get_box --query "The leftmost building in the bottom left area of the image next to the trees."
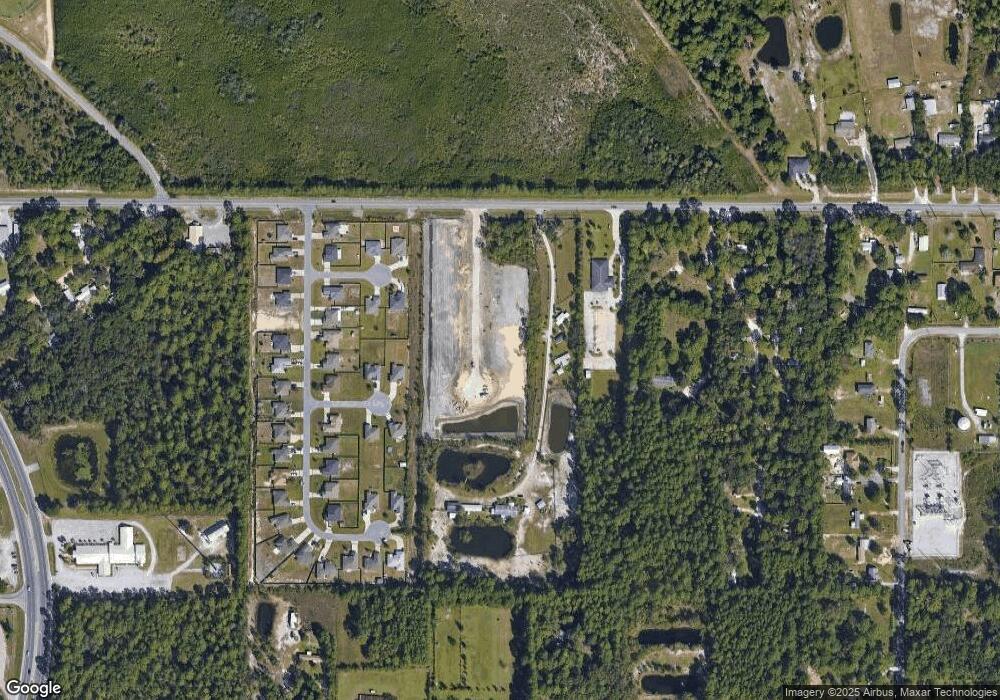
[72,527,145,577]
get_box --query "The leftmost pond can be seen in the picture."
[54,433,100,488]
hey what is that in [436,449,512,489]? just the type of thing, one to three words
pond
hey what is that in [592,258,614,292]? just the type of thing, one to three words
building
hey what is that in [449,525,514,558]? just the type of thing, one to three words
pond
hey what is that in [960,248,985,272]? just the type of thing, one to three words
house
